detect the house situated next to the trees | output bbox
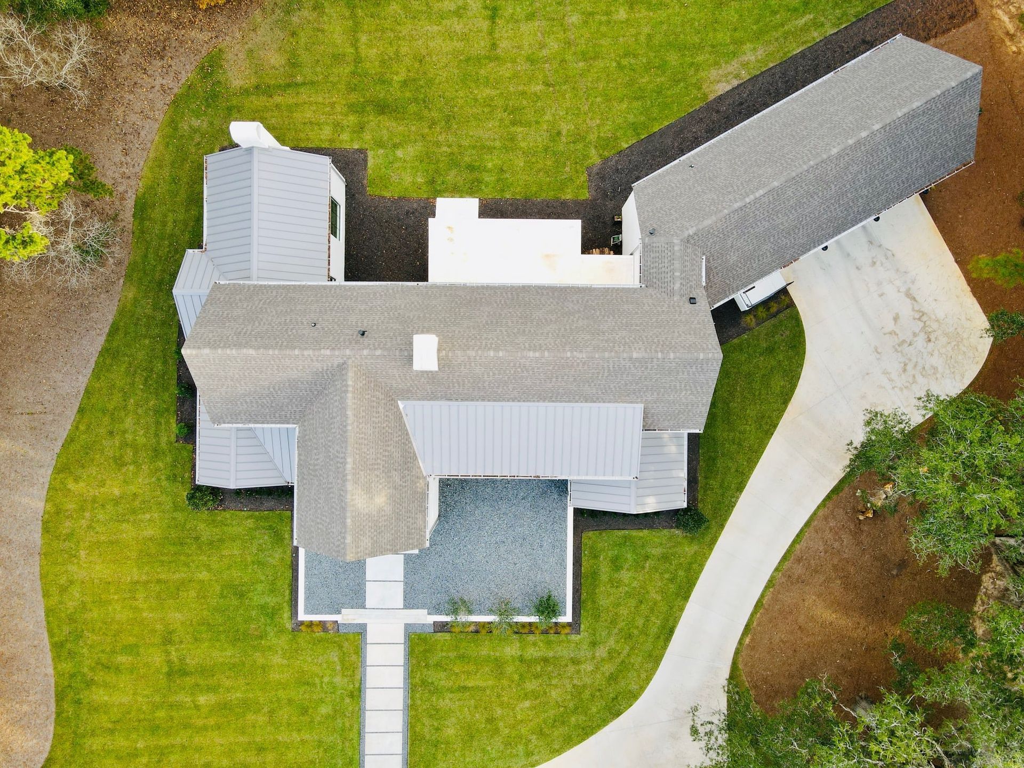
[173,34,982,561]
